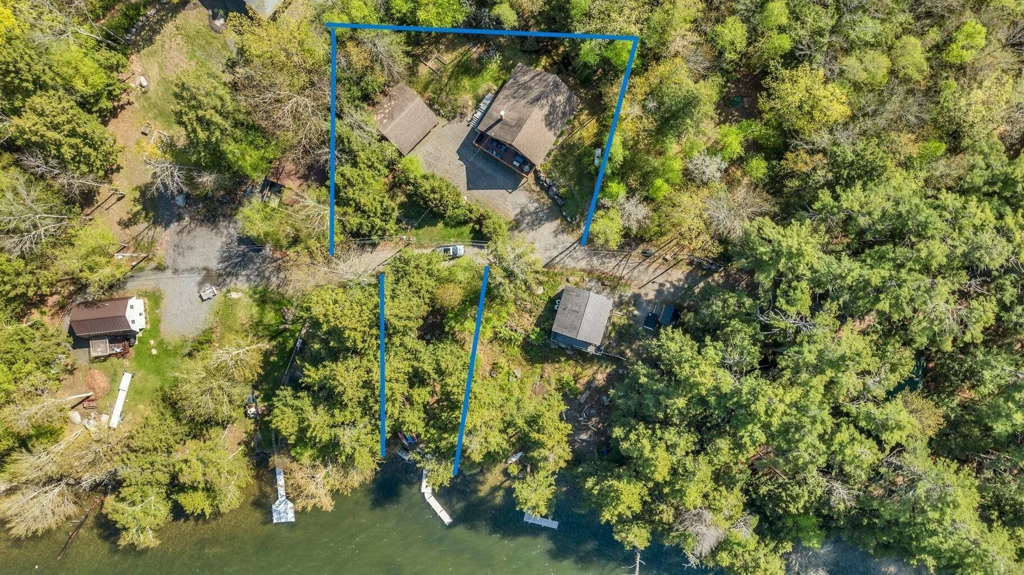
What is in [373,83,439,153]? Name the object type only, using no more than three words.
building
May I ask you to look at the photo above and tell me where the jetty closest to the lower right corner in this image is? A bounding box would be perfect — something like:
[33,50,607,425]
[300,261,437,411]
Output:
[523,511,558,529]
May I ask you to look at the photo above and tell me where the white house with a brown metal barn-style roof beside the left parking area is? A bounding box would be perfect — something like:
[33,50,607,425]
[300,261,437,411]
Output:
[69,297,146,338]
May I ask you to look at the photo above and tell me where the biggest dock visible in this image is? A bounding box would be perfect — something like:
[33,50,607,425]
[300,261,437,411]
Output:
[271,449,296,523]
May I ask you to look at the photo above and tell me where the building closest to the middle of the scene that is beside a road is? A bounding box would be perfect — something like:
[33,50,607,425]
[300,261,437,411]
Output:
[552,286,613,355]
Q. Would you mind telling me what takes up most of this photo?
trees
